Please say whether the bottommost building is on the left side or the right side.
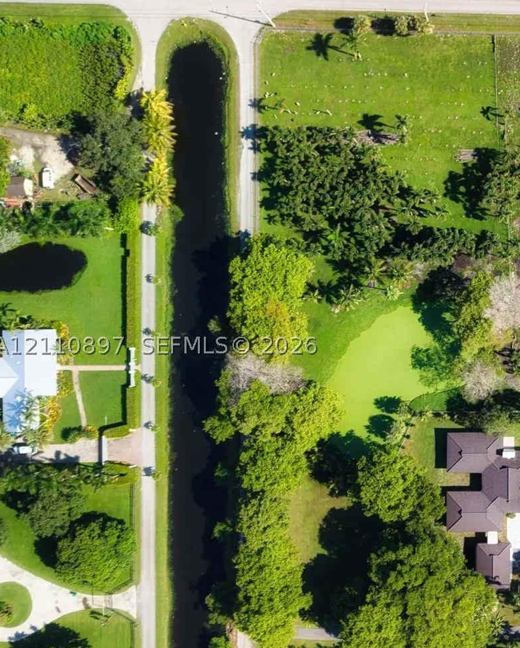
right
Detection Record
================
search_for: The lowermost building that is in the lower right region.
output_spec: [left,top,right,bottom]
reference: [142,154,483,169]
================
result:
[476,543,511,591]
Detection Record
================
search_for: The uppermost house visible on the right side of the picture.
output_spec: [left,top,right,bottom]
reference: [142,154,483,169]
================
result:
[446,432,520,532]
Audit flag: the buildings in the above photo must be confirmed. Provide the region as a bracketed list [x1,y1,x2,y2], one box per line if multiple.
[0,329,61,432]
[476,543,511,591]
[446,432,520,532]
[7,176,30,197]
